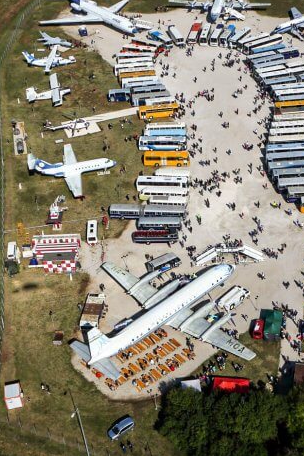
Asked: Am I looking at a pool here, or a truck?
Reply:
truck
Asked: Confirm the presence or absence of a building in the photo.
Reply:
Yes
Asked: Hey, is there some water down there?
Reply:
No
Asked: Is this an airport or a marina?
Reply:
airport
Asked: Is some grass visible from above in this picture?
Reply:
Yes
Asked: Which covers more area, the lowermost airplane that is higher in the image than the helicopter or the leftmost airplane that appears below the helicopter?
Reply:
the leftmost airplane that appears below the helicopter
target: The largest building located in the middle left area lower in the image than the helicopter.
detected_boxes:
[36,237,83,268]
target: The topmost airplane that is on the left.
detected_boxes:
[38,0,134,35]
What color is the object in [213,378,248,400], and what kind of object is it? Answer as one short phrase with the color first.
red tent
